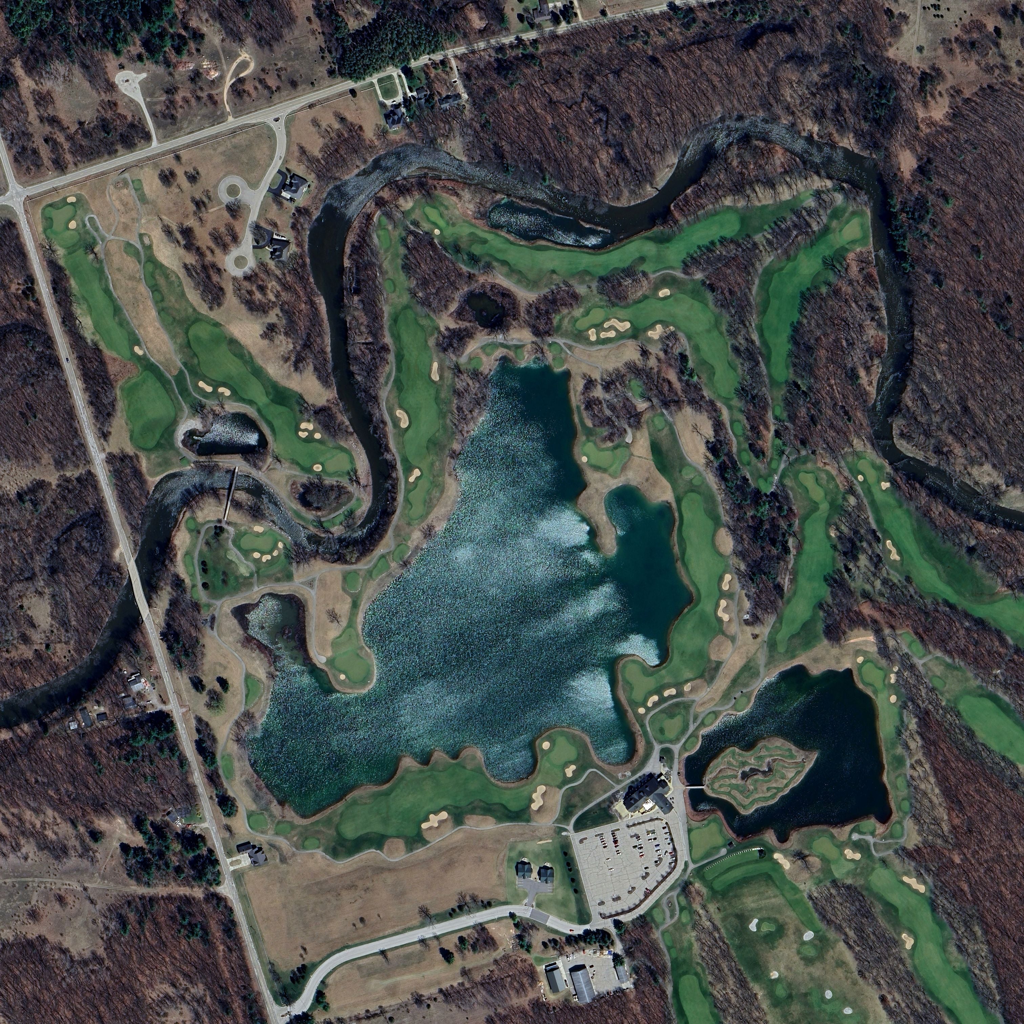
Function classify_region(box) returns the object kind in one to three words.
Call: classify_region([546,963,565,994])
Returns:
barn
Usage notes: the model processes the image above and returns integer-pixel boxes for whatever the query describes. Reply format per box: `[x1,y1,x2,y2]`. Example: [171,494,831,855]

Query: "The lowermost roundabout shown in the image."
[226,248,256,277]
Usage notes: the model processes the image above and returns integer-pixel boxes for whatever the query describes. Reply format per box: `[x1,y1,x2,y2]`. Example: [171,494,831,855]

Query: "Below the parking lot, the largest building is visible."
[571,967,596,1005]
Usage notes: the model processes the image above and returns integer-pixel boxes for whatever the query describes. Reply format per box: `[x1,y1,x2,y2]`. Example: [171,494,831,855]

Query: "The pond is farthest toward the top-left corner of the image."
[194,412,267,455]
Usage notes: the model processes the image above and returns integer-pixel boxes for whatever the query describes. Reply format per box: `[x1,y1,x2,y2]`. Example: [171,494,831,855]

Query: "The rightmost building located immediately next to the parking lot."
[621,775,674,815]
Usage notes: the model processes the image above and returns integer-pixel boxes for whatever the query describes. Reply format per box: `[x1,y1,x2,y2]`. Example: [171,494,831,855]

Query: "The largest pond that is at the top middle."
[488,198,614,249]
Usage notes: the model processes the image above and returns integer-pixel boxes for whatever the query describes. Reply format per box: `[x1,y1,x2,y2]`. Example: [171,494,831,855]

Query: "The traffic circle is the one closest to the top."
[218,176,249,206]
